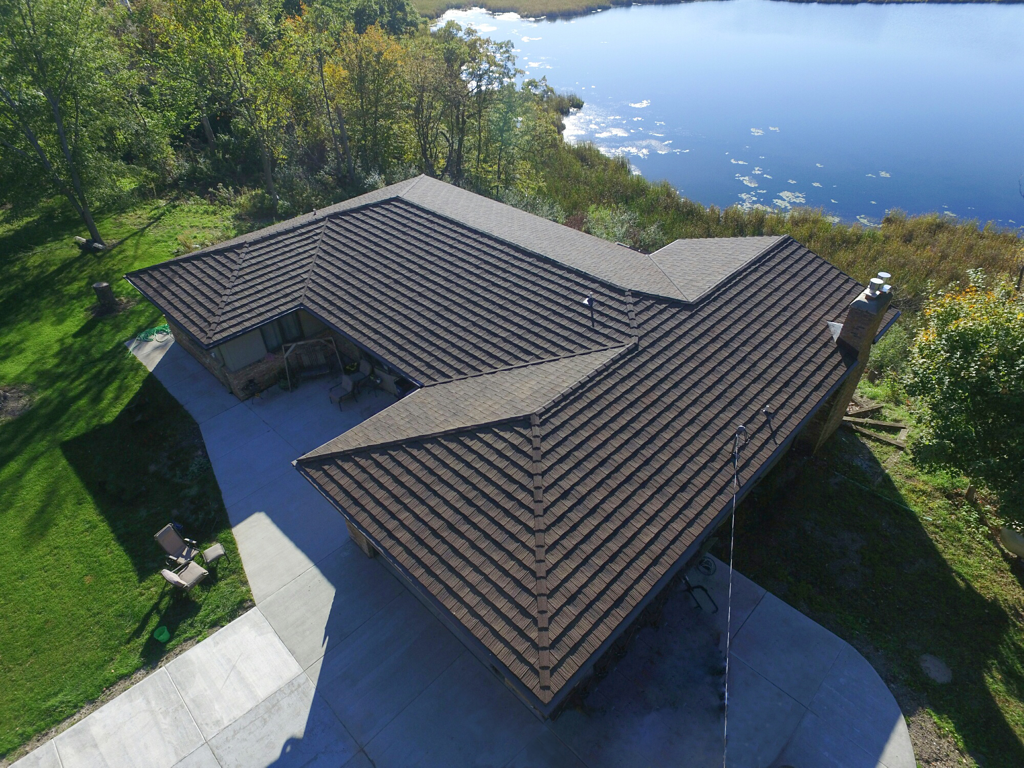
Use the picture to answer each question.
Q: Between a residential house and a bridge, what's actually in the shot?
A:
residential house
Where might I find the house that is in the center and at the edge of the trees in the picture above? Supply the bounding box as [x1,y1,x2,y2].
[124,173,904,727]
